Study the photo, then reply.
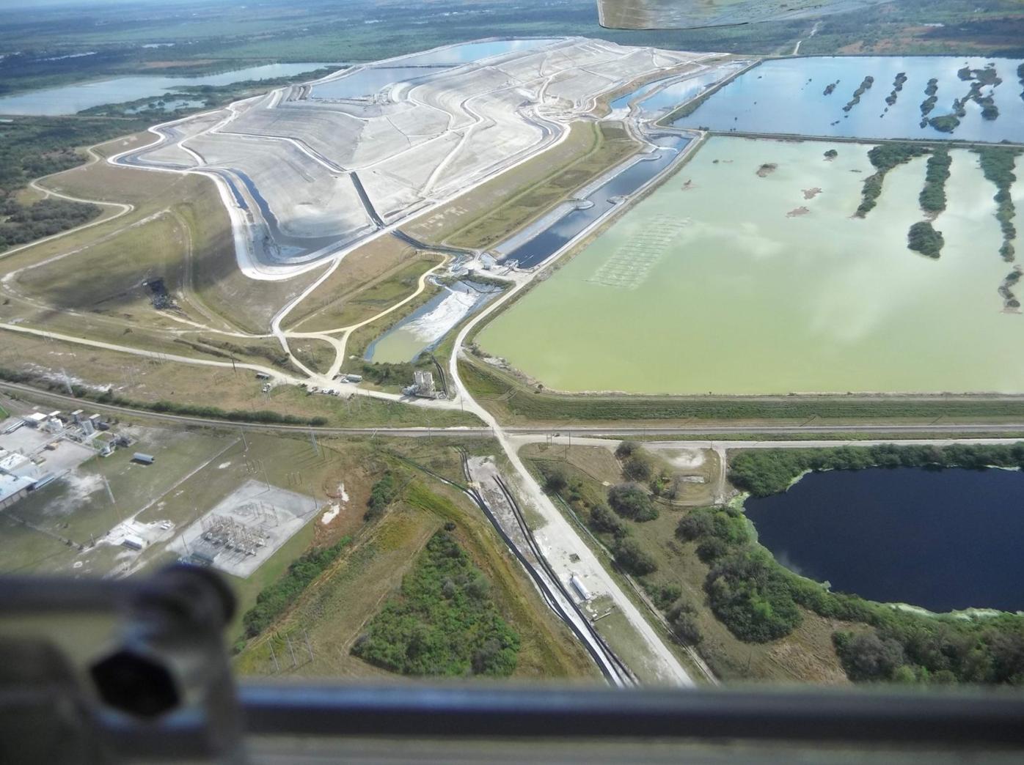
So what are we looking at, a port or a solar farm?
port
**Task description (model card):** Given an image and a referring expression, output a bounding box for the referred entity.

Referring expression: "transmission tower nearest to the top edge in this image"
[60,368,75,397]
